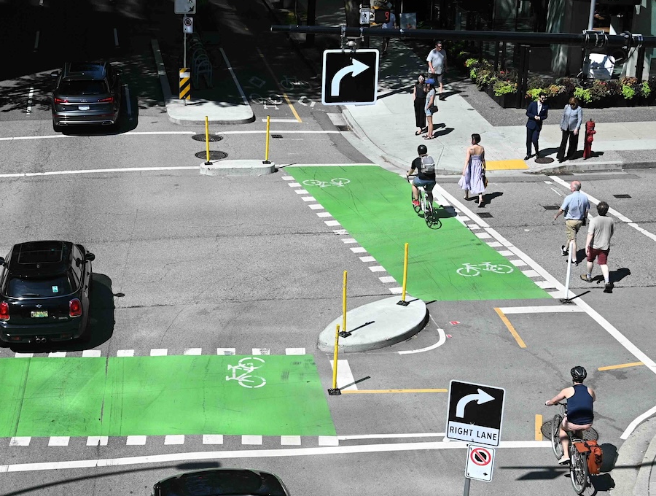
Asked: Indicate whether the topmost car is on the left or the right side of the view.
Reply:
left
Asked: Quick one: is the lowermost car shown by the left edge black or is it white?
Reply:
black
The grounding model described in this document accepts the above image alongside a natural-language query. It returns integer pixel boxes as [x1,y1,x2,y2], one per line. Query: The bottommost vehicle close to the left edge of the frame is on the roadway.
[0,239,98,345]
